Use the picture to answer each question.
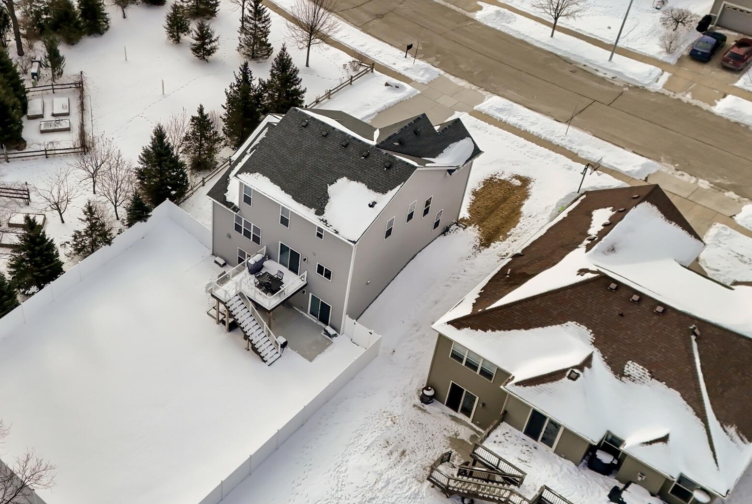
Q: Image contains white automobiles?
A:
No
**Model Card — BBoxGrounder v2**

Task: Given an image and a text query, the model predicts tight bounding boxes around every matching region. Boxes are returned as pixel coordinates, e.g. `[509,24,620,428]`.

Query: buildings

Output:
[200,109,484,337]
[707,0,752,34]
[423,179,752,504]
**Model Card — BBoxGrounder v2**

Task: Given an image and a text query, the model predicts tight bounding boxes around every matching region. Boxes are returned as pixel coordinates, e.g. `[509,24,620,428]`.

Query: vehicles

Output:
[725,39,752,66]
[693,32,728,58]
